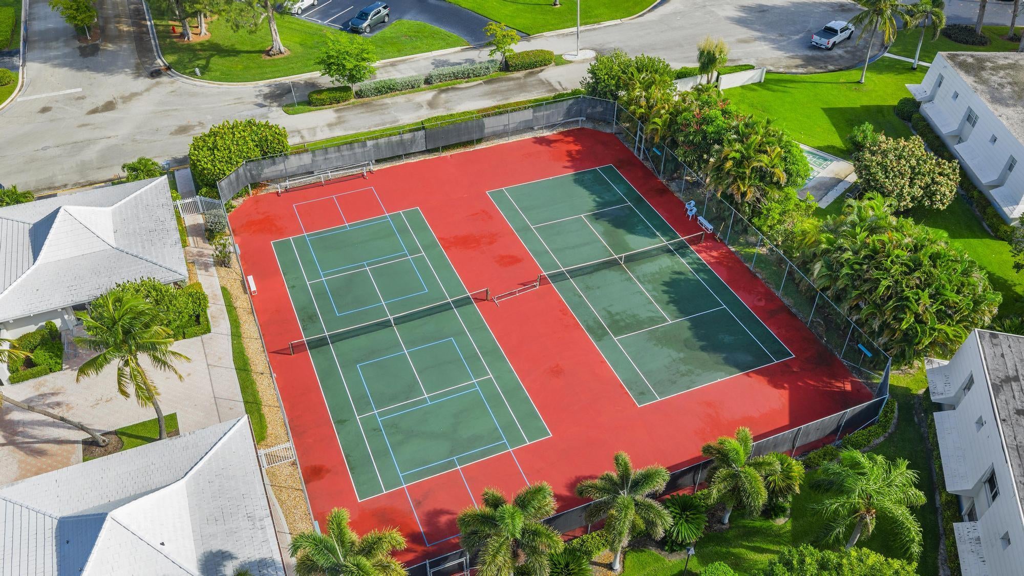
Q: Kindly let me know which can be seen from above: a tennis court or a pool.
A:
tennis court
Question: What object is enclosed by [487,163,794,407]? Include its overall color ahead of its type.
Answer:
green tennis court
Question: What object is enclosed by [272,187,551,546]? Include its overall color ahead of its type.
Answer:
green tennis court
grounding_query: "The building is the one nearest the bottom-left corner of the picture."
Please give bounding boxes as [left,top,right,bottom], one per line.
[0,413,287,576]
